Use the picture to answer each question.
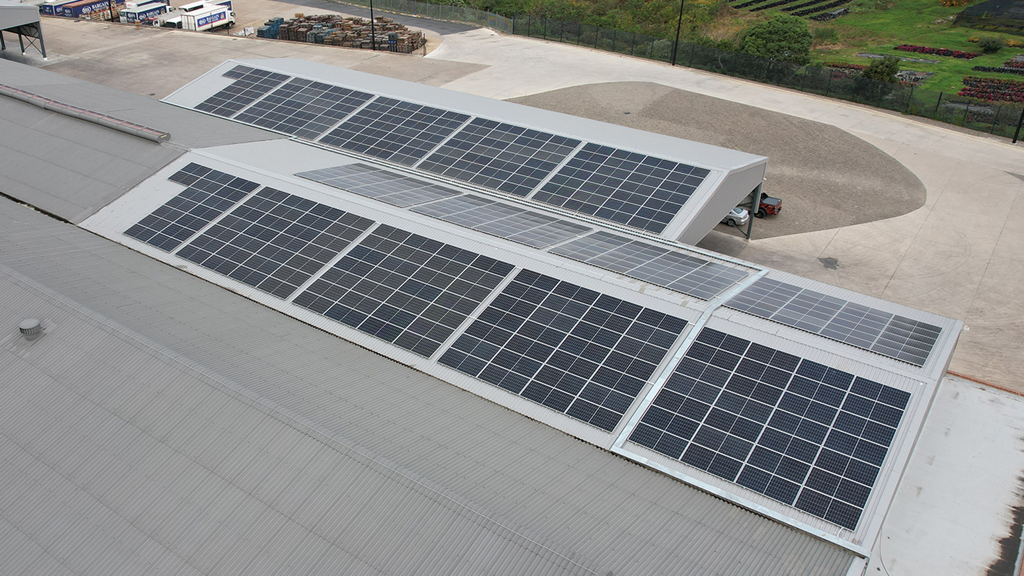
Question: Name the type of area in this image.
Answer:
industrial area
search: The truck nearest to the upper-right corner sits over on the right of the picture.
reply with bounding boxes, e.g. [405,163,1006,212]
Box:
[756,186,785,215]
